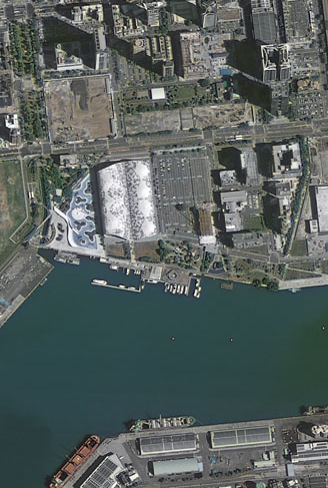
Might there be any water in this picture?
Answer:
Yes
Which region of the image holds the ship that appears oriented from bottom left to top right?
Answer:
bottom left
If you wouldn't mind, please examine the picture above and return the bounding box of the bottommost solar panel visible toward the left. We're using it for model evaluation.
[83,459,122,488]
